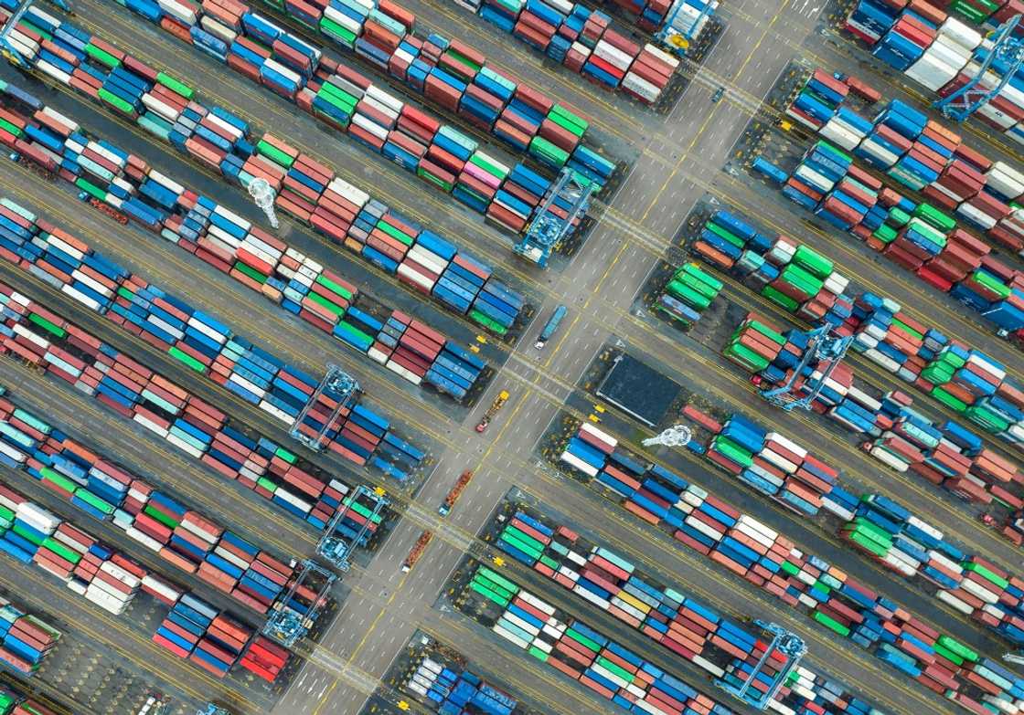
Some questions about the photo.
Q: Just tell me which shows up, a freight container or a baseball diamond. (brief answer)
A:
freight container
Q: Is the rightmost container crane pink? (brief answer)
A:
No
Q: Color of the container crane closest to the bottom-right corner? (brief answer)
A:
blue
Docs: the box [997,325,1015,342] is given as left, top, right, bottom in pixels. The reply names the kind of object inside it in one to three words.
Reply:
vehicle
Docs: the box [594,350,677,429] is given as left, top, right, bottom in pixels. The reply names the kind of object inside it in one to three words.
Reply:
shed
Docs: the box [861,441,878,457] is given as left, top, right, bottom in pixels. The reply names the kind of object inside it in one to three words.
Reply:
vehicle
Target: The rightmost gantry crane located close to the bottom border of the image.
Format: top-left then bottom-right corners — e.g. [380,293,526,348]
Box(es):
[708,615,811,715]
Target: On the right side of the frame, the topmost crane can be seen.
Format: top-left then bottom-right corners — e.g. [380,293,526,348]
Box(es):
[650,0,725,63]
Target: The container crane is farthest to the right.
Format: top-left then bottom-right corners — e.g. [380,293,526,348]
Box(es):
[933,14,1024,129]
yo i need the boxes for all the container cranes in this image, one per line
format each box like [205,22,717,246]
[933,14,1024,129]
[708,615,811,715]
[312,481,395,574]
[754,316,858,416]
[286,362,369,458]
[184,695,229,715]
[0,0,77,75]
[510,163,596,273]
[258,556,345,654]
[650,0,725,63]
